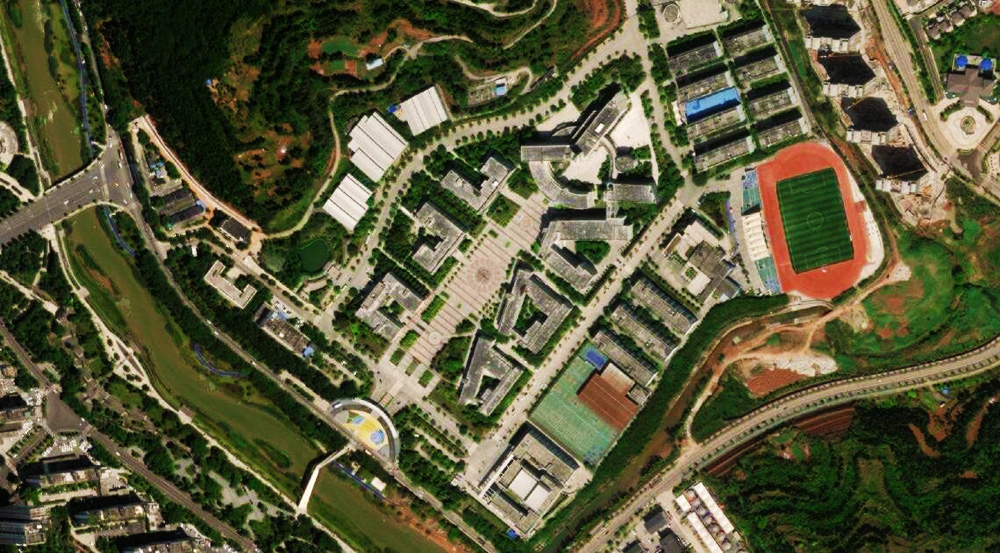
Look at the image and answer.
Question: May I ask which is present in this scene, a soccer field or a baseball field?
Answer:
soccer field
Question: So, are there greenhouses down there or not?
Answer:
Yes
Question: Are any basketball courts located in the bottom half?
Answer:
Yes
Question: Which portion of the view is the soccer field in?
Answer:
right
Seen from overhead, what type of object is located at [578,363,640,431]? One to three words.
basketball court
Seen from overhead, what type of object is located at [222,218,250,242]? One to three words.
house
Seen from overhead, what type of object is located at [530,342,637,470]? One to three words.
sports court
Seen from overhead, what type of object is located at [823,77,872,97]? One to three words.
building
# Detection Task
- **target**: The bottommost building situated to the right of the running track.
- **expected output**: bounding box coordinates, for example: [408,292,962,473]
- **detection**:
[876,172,927,192]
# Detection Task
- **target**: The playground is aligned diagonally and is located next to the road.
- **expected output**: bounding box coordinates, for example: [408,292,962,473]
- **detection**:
[345,411,387,450]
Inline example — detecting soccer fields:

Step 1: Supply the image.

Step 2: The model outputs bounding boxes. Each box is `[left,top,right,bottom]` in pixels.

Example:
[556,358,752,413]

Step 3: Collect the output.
[776,166,854,274]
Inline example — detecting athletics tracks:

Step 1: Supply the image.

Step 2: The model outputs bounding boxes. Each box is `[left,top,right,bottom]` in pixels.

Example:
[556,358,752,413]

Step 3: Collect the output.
[757,142,867,299]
